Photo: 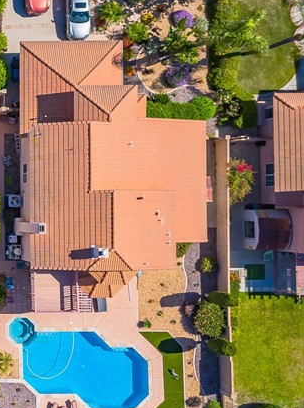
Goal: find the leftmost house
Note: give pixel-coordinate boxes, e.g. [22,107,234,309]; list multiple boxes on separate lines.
[10,39,209,299]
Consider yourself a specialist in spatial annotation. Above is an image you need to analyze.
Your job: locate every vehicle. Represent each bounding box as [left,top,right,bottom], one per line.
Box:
[20,0,48,18]
[61,0,93,41]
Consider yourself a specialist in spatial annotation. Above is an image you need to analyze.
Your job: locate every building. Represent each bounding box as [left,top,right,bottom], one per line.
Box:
[10,39,209,299]
[259,92,304,256]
